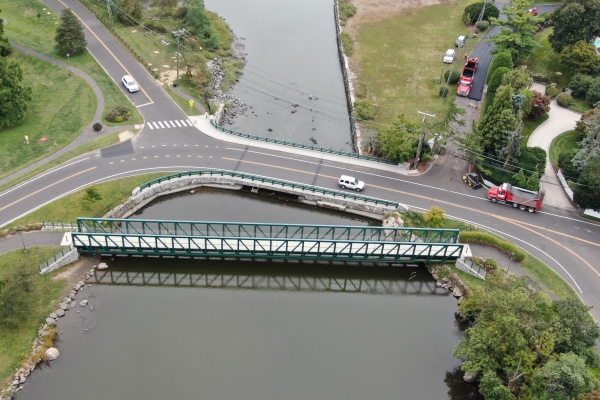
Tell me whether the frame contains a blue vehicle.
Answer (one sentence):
No, I can't see a single blue vehicle in this photo.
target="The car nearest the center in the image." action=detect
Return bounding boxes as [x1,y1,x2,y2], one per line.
[338,175,365,192]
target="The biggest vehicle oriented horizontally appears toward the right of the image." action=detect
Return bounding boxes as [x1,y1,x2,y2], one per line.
[488,184,541,213]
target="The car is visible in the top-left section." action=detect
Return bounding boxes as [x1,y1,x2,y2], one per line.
[122,74,138,91]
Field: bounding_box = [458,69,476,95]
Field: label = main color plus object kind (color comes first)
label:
red vehicle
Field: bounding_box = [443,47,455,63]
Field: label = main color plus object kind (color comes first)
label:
white vehicle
